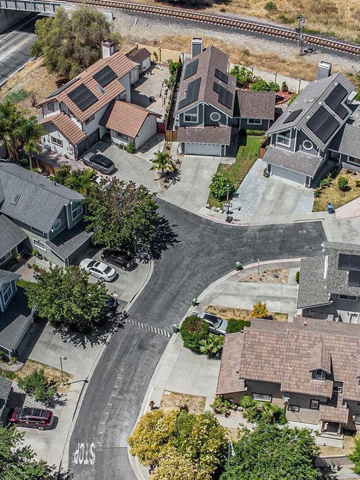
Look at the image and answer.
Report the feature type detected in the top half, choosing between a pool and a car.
car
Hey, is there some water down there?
No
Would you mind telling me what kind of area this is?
residential area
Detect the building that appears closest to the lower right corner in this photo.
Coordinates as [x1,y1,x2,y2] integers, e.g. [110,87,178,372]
[213,313,360,444]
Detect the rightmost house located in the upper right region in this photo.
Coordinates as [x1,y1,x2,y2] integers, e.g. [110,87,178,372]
[264,61,360,188]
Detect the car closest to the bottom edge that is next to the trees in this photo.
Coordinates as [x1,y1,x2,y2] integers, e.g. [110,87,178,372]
[8,405,56,431]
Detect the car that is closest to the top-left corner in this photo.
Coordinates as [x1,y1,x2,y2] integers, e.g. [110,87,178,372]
[83,152,116,175]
